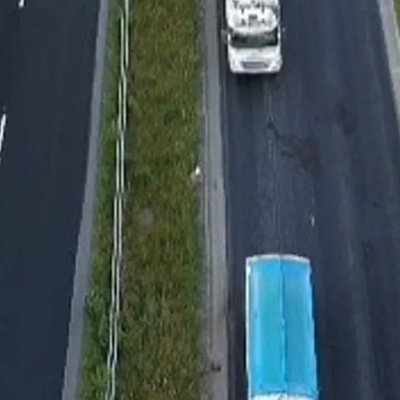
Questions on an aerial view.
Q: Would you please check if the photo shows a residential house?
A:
No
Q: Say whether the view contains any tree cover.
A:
No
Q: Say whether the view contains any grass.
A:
Yes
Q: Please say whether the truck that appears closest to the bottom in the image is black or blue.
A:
blue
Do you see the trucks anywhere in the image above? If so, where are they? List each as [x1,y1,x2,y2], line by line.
[225,0,291,72]
[244,257,320,400]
